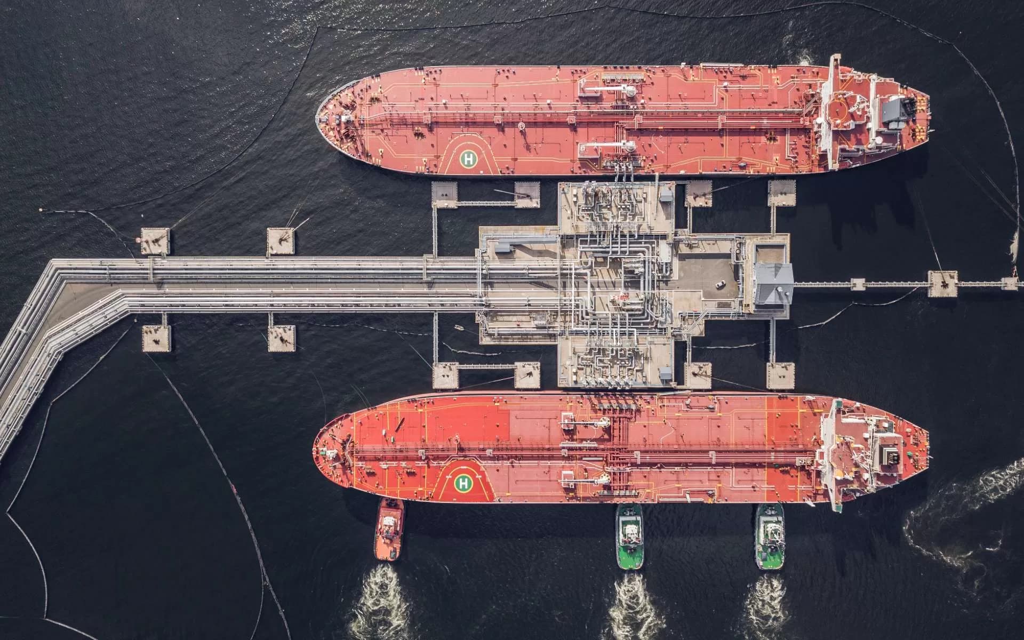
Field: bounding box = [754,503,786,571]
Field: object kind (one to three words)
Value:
boat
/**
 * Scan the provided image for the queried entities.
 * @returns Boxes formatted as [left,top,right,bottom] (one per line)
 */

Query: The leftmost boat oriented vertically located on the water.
[373,496,406,563]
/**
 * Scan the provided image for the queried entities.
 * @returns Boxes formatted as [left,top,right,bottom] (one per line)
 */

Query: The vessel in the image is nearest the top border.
[315,54,936,180]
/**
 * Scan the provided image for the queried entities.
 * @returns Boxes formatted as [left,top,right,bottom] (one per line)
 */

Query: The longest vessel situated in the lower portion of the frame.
[312,391,935,511]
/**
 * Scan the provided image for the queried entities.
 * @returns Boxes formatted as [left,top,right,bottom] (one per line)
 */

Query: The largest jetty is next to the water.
[475,226,790,346]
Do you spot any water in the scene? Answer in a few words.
Yes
